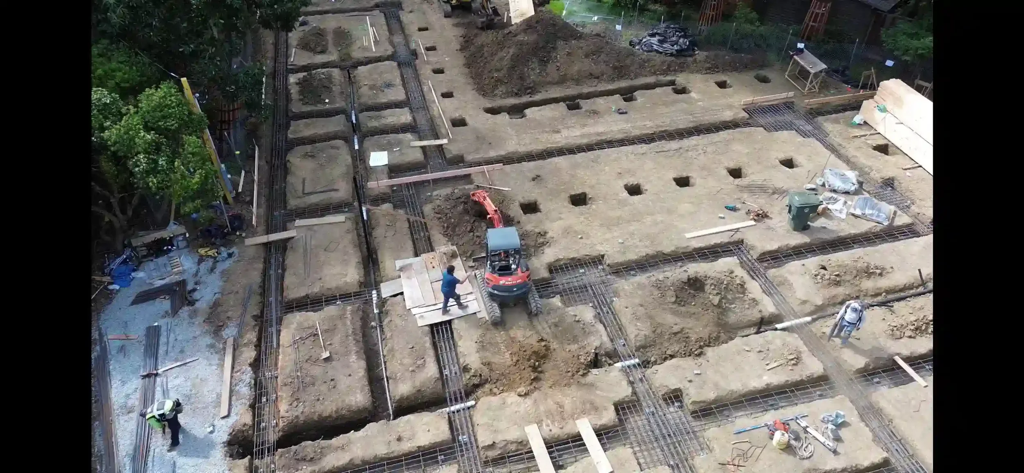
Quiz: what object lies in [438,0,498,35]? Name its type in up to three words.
work vehicle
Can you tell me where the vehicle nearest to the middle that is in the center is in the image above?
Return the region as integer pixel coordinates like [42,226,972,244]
[470,187,543,320]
